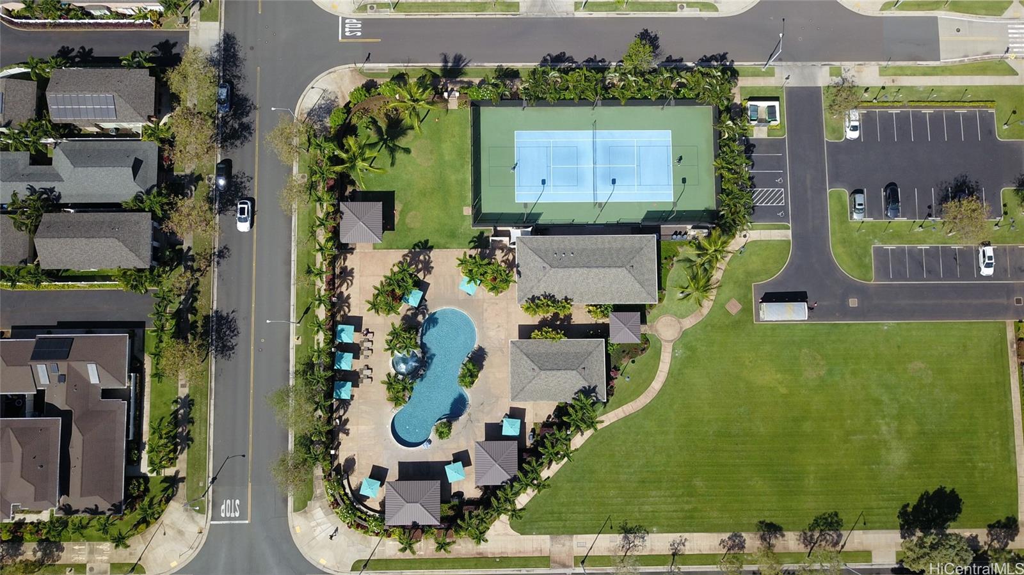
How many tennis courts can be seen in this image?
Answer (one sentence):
In total, there is 1 tennis court in the scene.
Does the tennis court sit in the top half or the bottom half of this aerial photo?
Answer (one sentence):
The tennis court is in the top half of the image.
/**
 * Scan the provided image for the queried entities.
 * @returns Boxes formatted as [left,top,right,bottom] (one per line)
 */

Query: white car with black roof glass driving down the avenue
[236,201,252,232]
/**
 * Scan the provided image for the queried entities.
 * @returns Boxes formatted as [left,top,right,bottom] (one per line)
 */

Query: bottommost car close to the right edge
[979,246,997,277]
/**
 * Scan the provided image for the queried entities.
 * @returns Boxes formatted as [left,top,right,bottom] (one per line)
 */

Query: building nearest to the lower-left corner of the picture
[0,417,67,521]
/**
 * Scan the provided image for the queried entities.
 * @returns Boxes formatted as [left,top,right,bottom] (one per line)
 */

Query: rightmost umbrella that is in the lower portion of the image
[502,417,520,436]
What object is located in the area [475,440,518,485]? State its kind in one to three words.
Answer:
building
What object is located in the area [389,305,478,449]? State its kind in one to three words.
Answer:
swimming pool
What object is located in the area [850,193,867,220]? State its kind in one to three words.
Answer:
car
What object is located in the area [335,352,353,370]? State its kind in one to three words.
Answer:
umbrella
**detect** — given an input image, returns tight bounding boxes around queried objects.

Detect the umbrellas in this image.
[333,381,351,399]
[502,417,520,436]
[359,477,381,498]
[335,352,353,370]
[337,325,355,343]
[401,289,424,309]
[445,461,466,483]
[458,279,479,298]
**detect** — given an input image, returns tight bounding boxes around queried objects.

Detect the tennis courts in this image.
[472,104,717,225]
